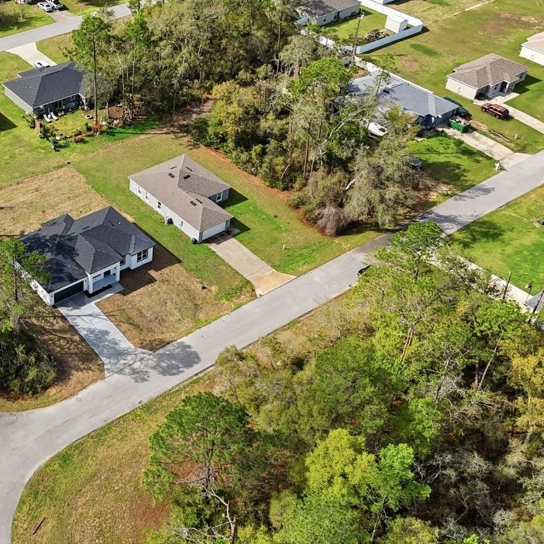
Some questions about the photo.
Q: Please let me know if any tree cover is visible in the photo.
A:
Yes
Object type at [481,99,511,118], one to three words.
car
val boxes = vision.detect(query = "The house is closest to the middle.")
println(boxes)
[124,154,234,244]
